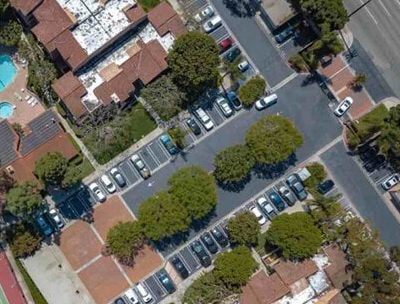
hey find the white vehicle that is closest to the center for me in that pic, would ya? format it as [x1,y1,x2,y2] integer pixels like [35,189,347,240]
[196,107,213,129]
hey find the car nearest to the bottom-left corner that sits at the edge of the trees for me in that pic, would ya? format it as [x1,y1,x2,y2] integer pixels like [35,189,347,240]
[35,215,54,236]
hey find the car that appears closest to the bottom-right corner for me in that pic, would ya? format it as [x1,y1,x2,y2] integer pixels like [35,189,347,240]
[381,171,400,188]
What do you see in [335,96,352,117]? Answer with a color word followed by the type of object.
white car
